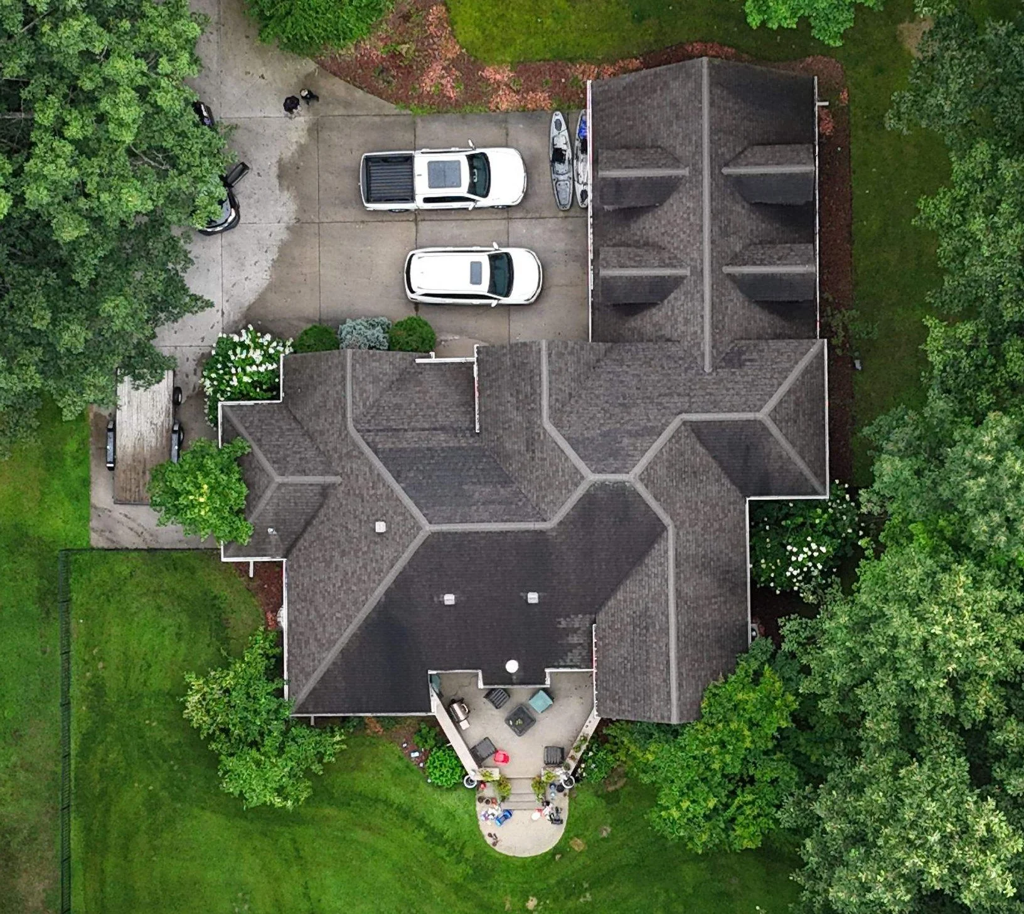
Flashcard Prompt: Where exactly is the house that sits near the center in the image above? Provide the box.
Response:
[217,57,832,725]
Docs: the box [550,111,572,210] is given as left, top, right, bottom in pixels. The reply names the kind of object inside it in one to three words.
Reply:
boat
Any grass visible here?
Yes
